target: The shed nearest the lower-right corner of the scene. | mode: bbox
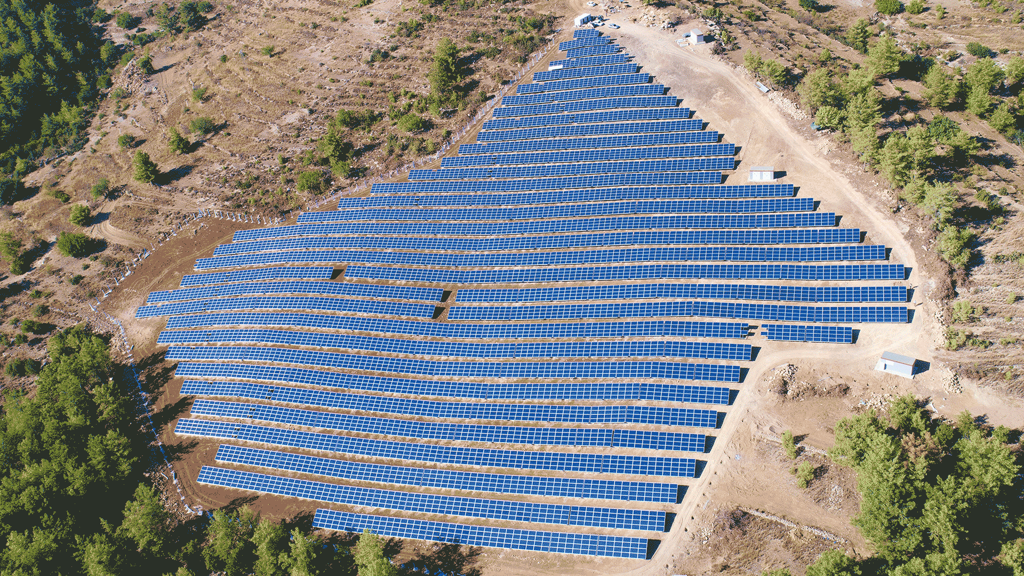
[873,349,918,380]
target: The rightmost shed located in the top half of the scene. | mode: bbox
[747,165,777,182]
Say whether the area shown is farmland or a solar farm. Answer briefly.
solar farm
